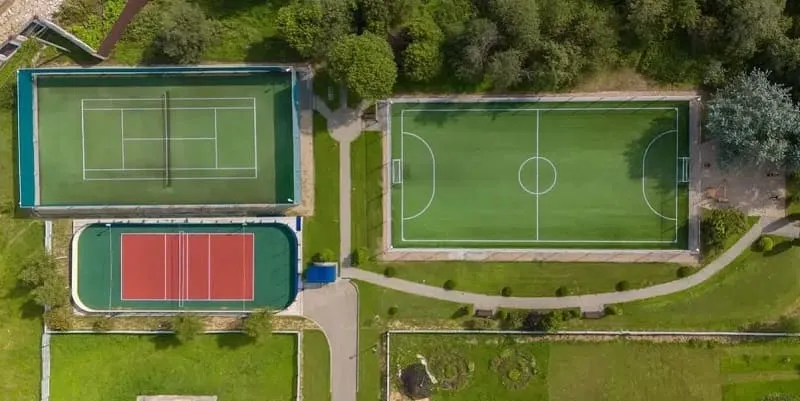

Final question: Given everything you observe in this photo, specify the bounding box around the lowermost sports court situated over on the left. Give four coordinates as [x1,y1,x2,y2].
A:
[73,217,303,318]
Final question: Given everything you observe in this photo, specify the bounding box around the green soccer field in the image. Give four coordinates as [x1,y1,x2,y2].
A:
[377,93,700,262]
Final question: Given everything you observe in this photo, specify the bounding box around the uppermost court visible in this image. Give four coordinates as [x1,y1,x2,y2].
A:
[34,72,295,208]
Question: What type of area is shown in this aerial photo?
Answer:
sports ground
